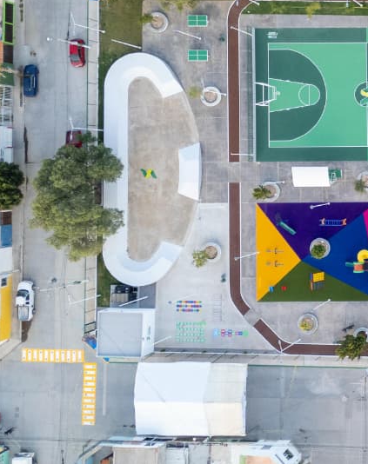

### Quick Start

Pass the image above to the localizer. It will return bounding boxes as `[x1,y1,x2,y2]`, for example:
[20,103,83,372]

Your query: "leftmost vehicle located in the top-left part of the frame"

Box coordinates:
[21,64,40,98]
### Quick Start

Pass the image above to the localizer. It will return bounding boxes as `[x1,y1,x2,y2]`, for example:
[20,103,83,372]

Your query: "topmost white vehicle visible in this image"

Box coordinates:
[15,280,36,322]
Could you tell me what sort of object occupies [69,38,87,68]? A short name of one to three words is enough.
car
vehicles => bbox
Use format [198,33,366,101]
[66,126,84,152]
[69,38,87,68]
[11,452,37,464]
[21,64,40,98]
[15,280,36,322]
